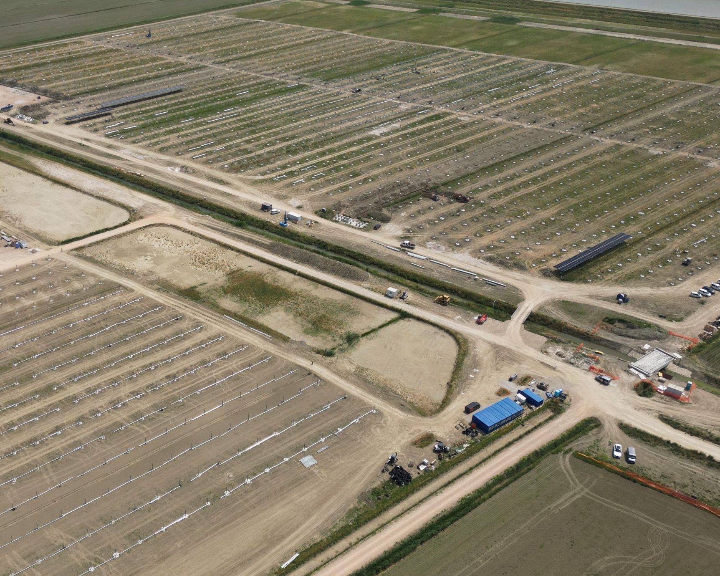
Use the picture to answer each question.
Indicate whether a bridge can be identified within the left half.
No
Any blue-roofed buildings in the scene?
Yes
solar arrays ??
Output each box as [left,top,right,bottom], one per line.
[554,232,632,272]
[103,87,184,106]
[66,107,115,121]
